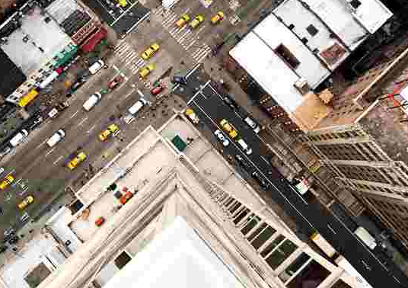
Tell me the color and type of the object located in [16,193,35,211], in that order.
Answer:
yellow car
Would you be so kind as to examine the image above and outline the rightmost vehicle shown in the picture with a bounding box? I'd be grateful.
[377,247,396,266]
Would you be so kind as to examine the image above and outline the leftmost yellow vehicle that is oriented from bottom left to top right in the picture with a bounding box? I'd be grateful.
[0,174,16,192]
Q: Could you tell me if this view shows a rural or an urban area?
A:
urban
